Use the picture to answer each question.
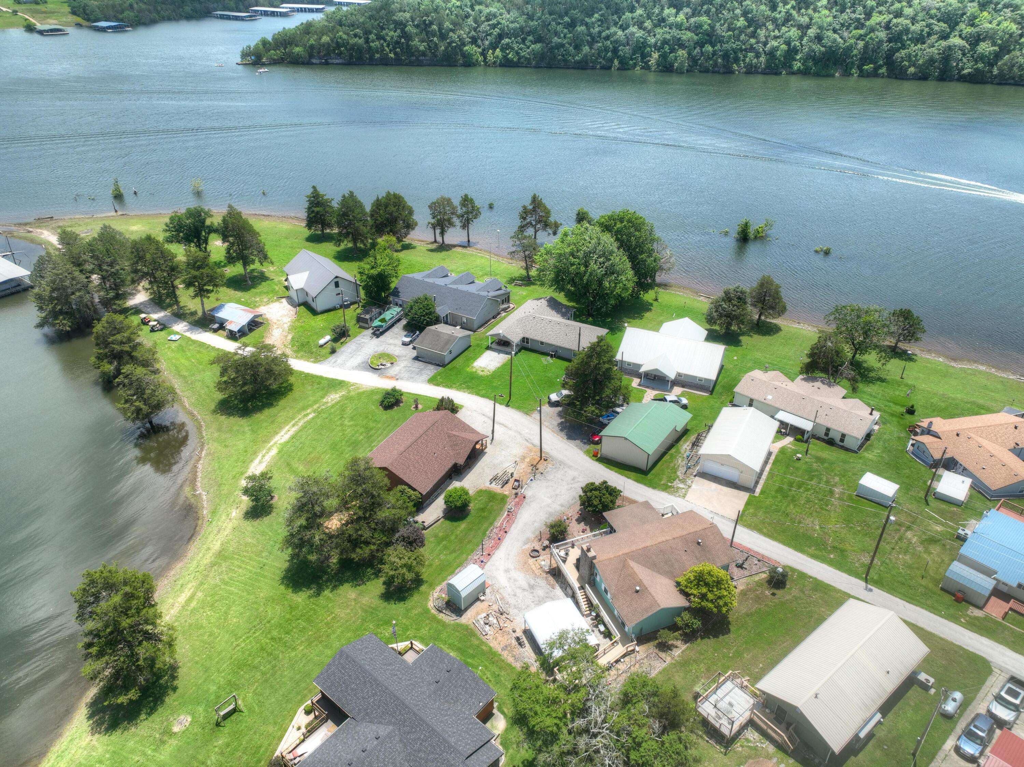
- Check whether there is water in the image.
Yes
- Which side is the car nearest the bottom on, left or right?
right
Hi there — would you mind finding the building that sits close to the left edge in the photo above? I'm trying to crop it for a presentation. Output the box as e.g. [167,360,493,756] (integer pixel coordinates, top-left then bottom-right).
[0,257,40,303]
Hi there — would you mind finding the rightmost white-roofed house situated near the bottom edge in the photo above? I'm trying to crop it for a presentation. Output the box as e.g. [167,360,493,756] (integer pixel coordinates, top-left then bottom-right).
[753,600,931,767]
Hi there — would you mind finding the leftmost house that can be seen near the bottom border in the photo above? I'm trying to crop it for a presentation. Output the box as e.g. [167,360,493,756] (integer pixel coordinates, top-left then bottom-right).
[280,634,506,767]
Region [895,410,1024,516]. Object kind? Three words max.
house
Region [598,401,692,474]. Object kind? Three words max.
barn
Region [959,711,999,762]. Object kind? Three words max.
car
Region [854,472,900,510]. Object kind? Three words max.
shed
